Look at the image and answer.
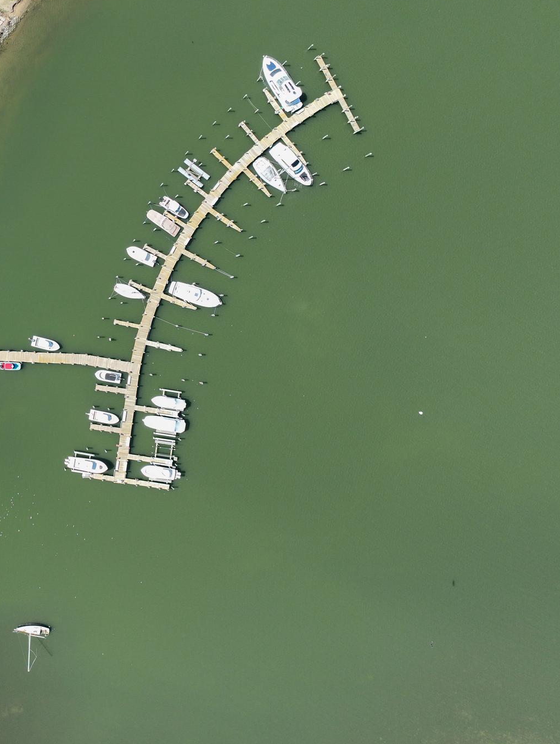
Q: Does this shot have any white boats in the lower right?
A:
No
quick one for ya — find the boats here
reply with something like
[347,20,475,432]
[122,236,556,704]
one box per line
[149,212,180,237]
[81,409,120,425]
[0,362,21,371]
[142,466,180,481]
[260,54,301,119]
[267,140,314,184]
[25,336,59,351]
[64,456,108,474]
[254,157,294,192]
[168,280,223,308]
[15,625,49,669]
[152,395,189,410]
[127,247,161,267]
[156,194,188,217]
[113,283,145,298]
[96,370,127,384]
[143,415,190,433]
